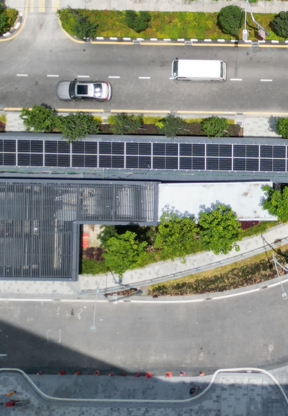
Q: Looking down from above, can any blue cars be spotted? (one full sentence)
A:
No, I find no blue car anywhere in the image.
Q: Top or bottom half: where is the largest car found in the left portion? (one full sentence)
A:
It is in the top half that the largest car found in the left portion appears.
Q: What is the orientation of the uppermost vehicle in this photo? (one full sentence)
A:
What the image shows is the uppermost vehicle lying from side to side.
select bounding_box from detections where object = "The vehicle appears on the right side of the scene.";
[169,55,229,81]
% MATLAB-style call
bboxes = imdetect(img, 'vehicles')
[169,55,229,81]
[54,77,112,102]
